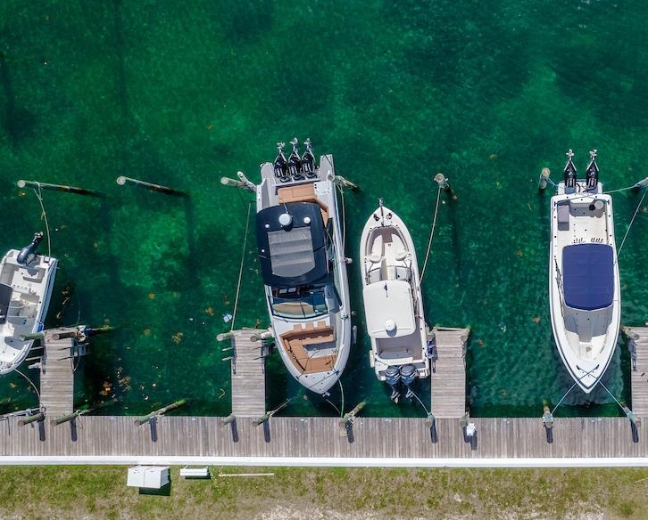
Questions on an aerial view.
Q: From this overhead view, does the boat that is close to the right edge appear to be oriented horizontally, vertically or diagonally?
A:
vertically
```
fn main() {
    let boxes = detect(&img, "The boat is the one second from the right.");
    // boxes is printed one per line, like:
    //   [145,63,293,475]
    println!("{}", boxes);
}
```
[360,196,431,399]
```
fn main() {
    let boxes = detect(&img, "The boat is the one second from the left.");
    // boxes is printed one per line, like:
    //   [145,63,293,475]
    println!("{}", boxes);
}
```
[257,139,357,400]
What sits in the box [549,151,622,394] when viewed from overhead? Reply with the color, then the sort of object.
white boat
